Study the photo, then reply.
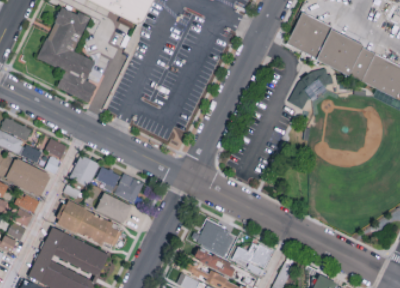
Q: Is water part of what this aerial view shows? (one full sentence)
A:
No, there's no water in this view.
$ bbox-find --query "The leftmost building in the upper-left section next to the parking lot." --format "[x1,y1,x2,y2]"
[39,6,98,104]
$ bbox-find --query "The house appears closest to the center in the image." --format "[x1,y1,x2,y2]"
[116,173,145,203]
